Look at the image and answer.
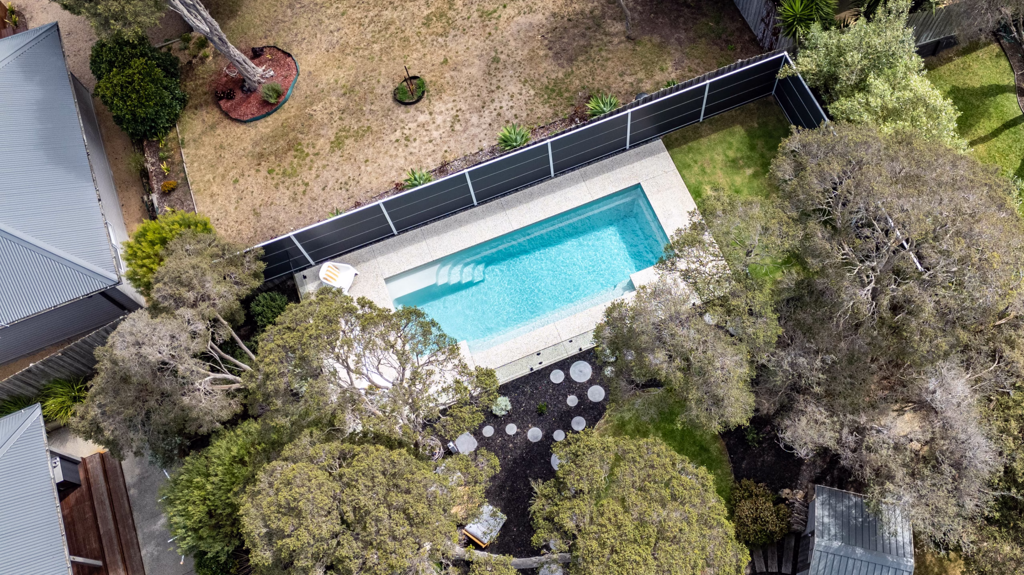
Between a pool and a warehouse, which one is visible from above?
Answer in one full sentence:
The image shows a pool.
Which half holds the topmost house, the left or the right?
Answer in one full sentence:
It is on the left.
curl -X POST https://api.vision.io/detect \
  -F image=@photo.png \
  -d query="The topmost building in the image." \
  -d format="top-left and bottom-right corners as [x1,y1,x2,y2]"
[0,15,147,362]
